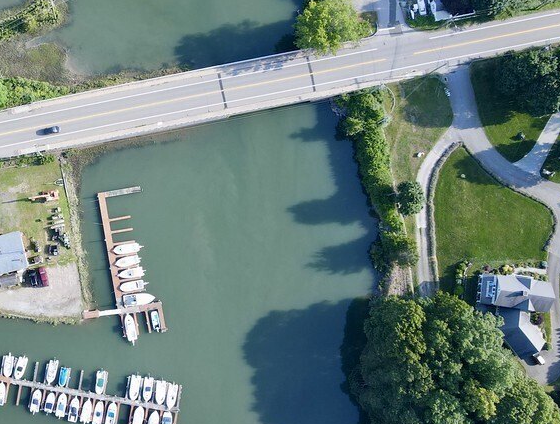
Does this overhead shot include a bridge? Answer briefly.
Yes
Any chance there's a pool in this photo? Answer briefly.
No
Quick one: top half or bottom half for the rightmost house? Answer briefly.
bottom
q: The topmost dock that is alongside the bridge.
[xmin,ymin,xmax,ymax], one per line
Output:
[81,186,168,339]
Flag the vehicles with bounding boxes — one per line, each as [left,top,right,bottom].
[417,0,427,16]
[39,266,49,287]
[45,246,58,254]
[29,270,37,288]
[45,127,60,135]
[534,354,546,365]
